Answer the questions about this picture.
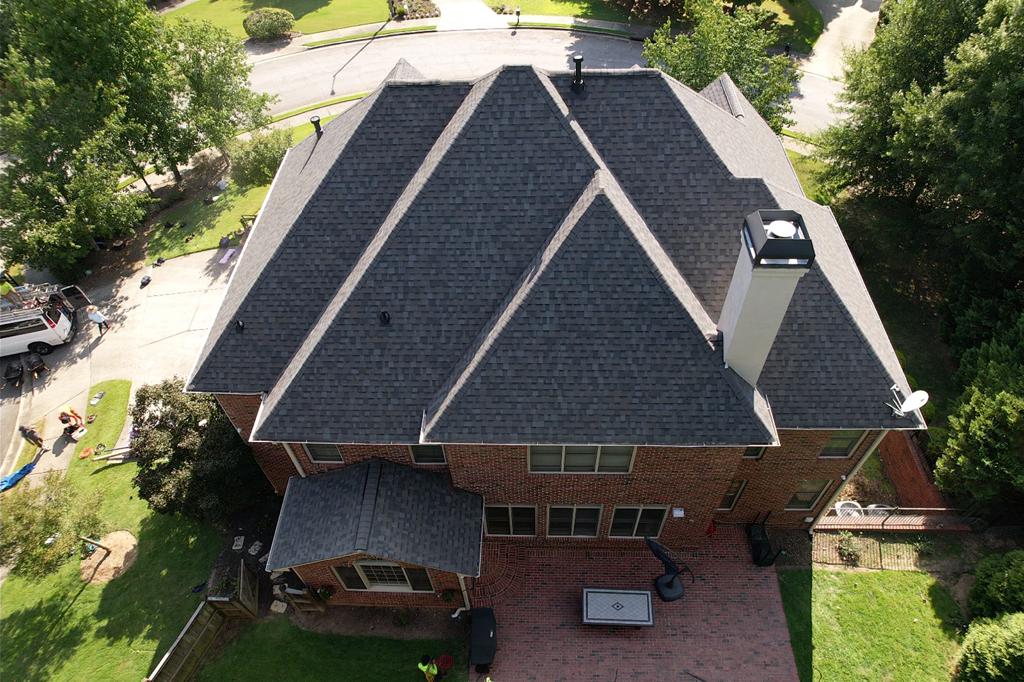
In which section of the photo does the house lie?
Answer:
center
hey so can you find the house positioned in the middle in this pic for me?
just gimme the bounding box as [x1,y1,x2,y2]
[185,56,930,621]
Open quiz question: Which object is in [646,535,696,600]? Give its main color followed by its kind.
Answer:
black umbrella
